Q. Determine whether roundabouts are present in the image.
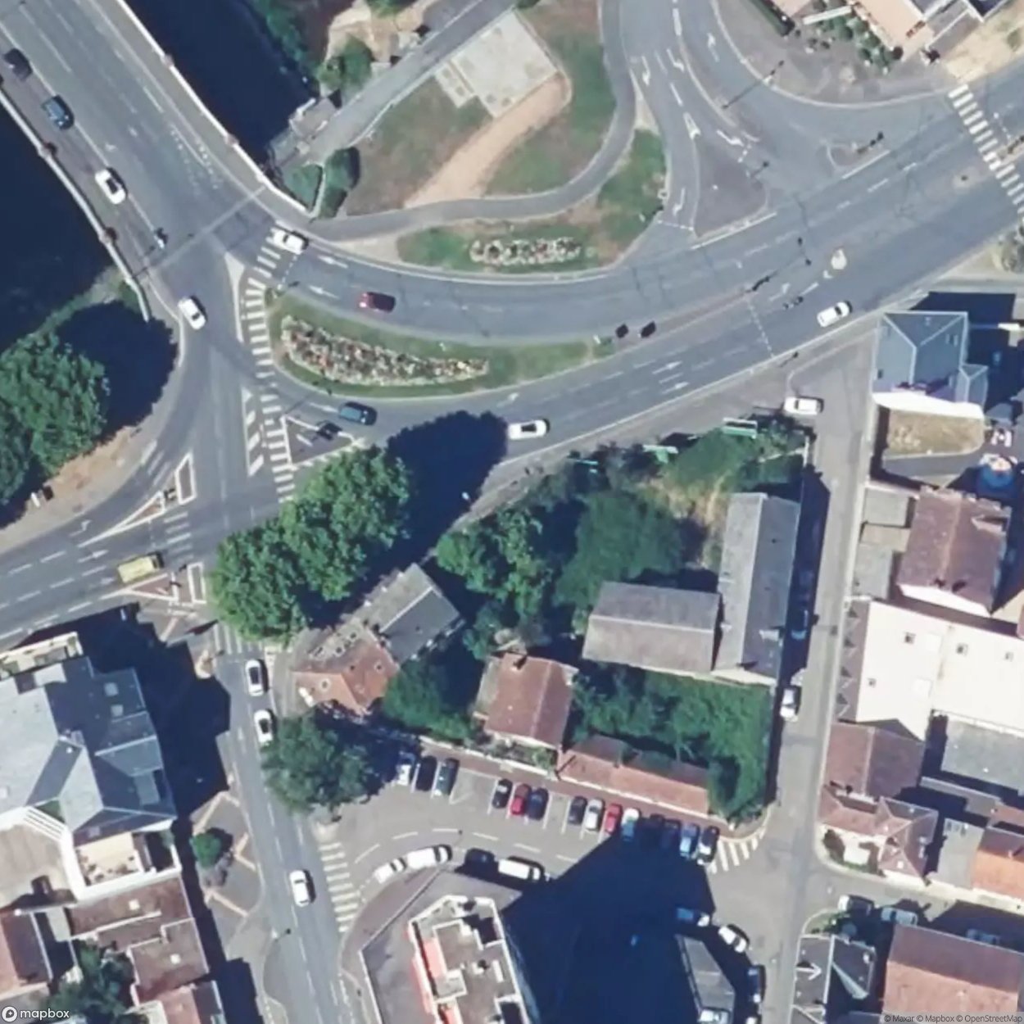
No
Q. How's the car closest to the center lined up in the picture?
from left to right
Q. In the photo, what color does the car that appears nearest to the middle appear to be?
white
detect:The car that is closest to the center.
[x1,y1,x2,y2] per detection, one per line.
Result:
[509,419,548,439]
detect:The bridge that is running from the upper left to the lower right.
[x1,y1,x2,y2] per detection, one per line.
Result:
[0,0,360,267]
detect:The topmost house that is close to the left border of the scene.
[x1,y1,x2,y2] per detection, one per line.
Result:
[0,657,175,848]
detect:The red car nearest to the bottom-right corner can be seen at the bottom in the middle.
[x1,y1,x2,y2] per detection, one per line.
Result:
[602,802,622,836]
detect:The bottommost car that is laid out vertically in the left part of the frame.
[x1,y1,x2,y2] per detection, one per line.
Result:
[292,870,311,905]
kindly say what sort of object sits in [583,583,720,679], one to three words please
barn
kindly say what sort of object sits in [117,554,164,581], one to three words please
vehicle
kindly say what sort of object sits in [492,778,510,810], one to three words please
car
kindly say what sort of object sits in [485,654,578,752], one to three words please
house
